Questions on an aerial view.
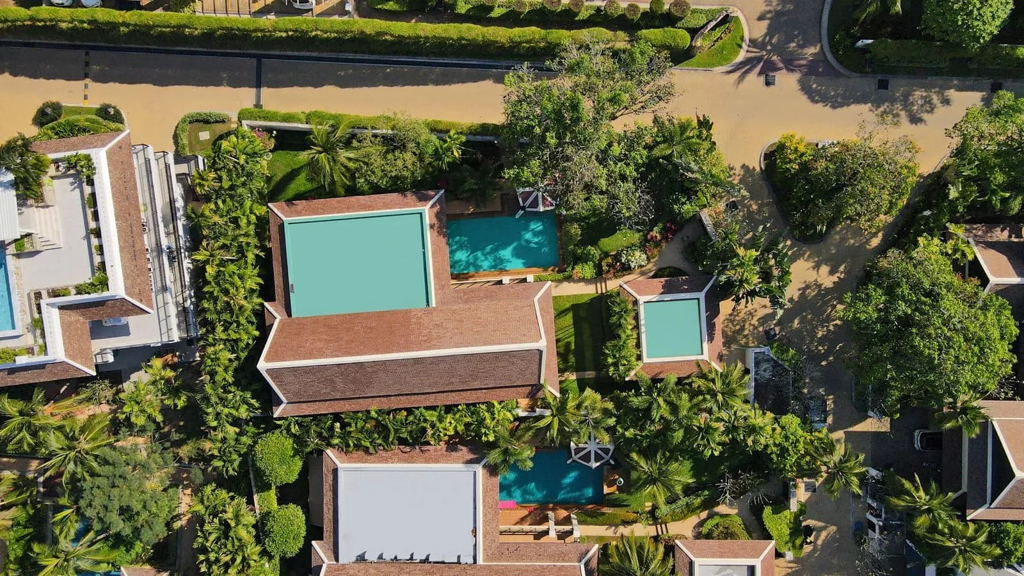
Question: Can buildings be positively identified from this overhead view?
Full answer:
Yes, a building can be made out from above.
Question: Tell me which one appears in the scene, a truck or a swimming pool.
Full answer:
The image shows a swimming pool.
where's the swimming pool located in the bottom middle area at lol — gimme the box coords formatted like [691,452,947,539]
[497,445,605,505]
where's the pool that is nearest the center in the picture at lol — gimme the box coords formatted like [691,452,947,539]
[446,209,562,277]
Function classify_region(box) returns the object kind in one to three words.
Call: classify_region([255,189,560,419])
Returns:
house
